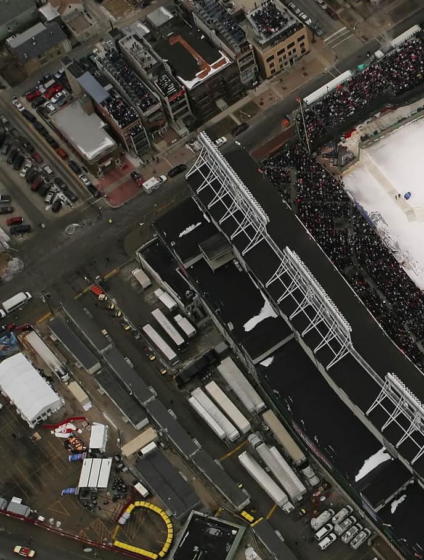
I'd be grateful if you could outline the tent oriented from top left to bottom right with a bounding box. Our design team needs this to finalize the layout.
[0,351,67,428]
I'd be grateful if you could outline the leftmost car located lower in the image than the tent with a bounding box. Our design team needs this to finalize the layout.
[13,546,36,559]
